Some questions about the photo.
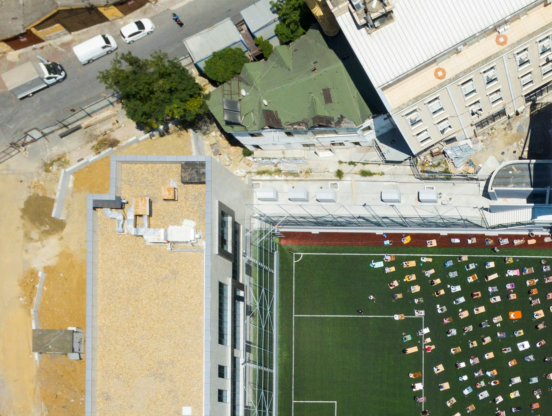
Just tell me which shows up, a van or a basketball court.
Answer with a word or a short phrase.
van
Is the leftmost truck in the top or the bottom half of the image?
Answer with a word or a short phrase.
top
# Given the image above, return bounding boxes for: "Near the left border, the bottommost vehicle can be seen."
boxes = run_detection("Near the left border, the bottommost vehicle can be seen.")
[0,56,65,98]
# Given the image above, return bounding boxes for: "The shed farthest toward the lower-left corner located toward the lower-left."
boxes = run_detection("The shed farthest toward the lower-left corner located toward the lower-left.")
[32,330,86,355]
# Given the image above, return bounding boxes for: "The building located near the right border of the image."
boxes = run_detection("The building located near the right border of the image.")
[354,0,552,152]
